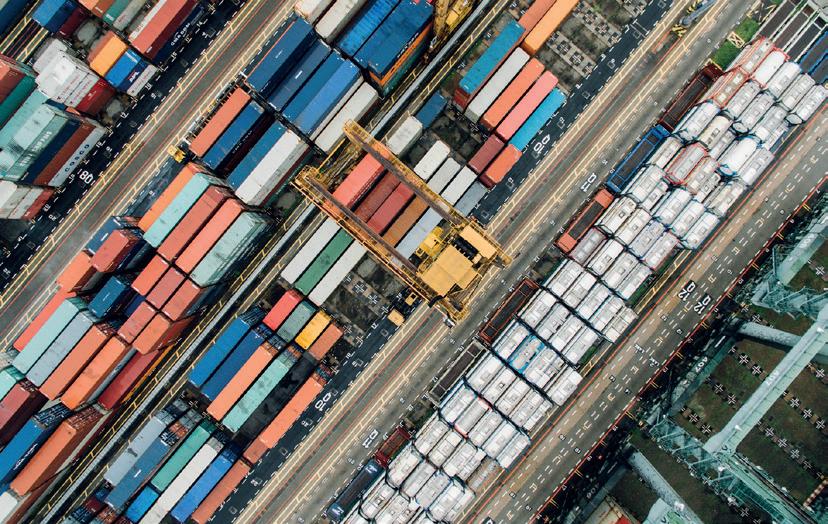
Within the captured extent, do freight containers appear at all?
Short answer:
Yes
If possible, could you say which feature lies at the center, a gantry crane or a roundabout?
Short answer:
gantry crane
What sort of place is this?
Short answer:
industrial area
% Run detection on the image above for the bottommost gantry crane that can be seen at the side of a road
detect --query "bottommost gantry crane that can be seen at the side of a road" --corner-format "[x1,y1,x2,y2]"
[548,439,712,524]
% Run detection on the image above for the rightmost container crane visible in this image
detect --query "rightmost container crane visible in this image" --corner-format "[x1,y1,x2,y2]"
[749,199,828,357]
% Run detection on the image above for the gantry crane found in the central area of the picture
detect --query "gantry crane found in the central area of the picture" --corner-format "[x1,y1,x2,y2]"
[289,119,513,327]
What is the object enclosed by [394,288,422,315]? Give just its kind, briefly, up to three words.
truck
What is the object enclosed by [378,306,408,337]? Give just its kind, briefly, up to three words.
truck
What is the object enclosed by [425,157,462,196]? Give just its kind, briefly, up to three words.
shipping container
